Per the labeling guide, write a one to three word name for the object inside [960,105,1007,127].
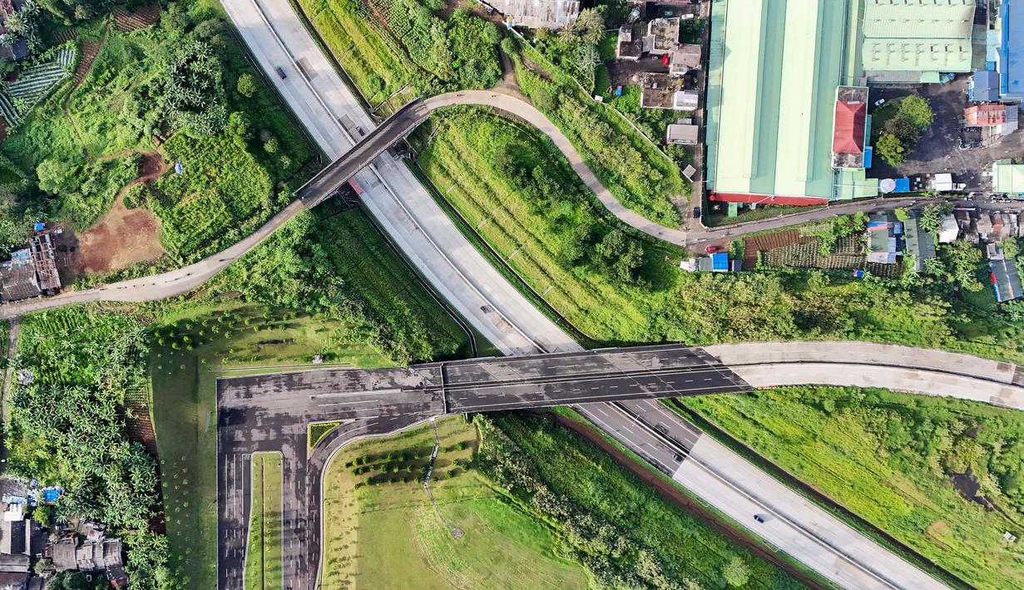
building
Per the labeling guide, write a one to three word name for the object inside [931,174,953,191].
shed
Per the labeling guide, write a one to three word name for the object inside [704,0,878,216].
building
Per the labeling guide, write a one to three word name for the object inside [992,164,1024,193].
house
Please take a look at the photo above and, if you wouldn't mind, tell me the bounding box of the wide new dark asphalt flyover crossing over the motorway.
[410,343,754,414]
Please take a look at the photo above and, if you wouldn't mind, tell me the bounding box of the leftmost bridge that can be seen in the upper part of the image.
[293,96,432,207]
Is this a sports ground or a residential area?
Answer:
residential area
